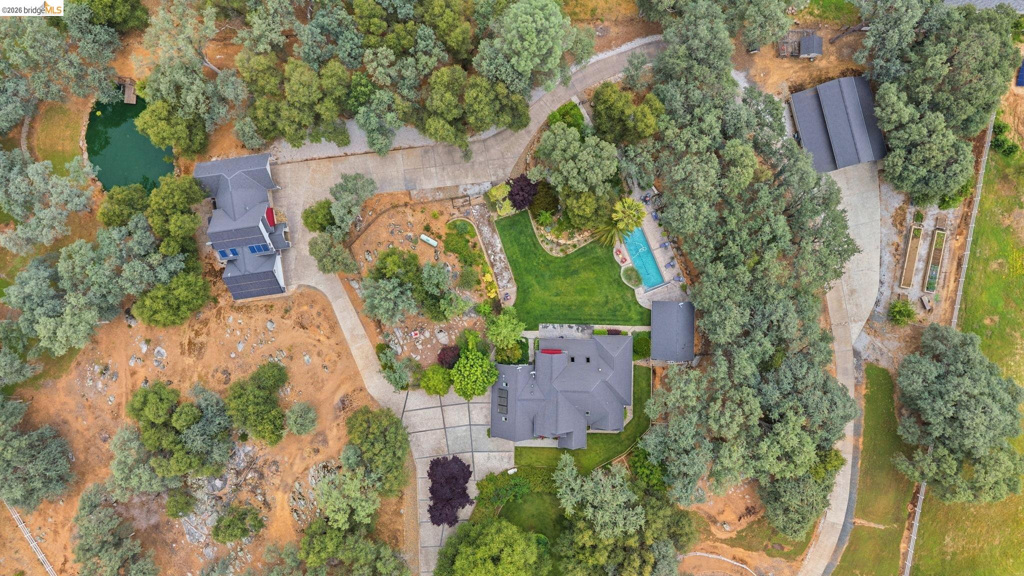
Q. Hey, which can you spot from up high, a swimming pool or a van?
swimming pool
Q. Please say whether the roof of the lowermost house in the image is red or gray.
gray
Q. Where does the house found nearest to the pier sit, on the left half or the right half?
left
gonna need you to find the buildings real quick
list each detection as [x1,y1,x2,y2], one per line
[490,335,632,449]
[796,35,822,58]
[194,152,293,300]
[787,76,887,174]
[650,301,695,361]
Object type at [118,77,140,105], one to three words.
pier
